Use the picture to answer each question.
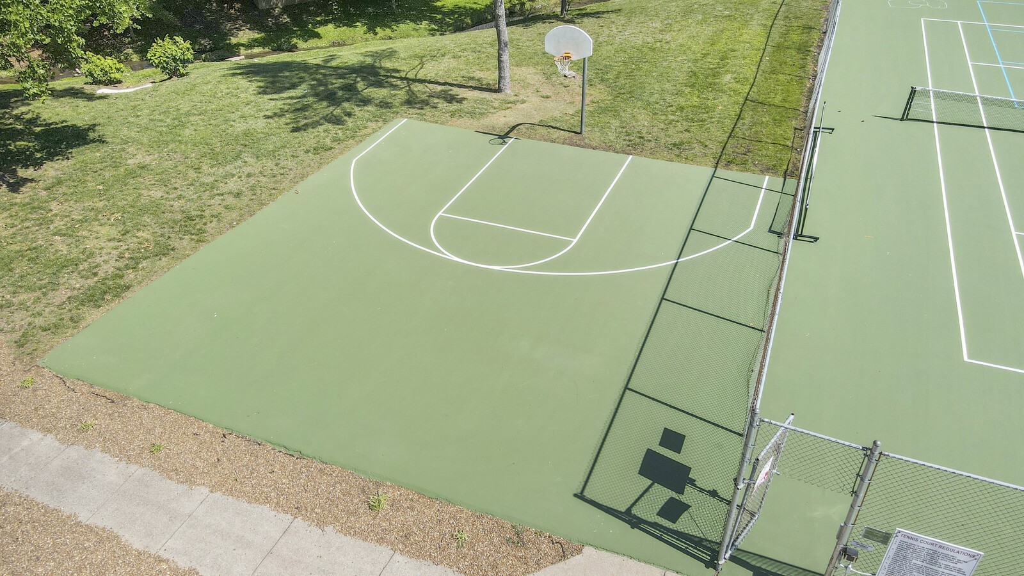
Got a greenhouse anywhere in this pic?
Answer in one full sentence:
No, no greenhouse can be seen from above.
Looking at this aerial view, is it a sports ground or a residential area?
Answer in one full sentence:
The picture captures a sports ground.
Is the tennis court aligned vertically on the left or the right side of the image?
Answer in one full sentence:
The tennis court aligned vertically appears in the right half of the scene.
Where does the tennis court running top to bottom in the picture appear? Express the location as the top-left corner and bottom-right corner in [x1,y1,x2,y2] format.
[714,0,1024,576]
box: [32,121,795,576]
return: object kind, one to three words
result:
basketball court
